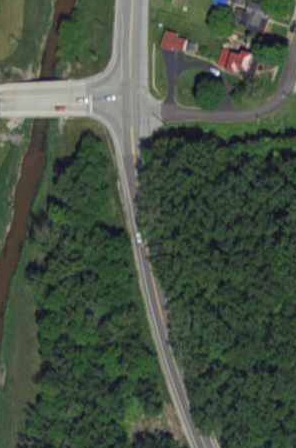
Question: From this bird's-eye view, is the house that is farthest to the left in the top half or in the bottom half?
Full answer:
The house that is farthest to the left sits in the top half of the picture.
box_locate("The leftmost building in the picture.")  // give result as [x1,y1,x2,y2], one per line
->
[159,28,190,52]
